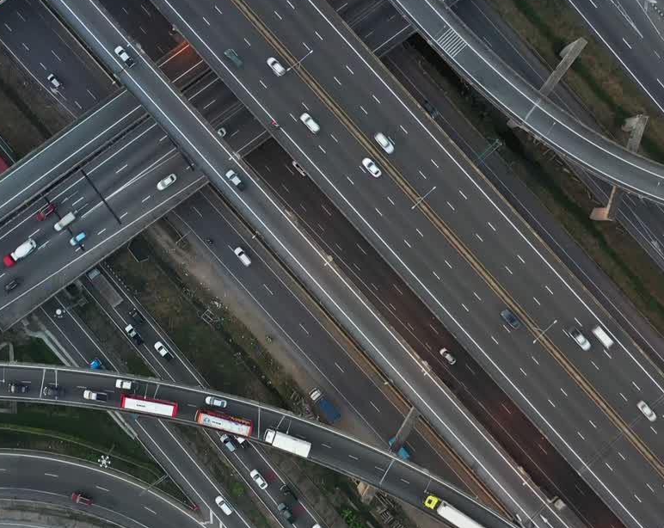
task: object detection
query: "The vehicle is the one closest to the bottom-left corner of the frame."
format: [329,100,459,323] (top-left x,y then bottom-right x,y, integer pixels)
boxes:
[70,491,95,506]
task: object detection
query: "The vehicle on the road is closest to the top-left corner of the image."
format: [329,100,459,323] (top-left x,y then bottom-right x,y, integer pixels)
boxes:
[46,70,67,92]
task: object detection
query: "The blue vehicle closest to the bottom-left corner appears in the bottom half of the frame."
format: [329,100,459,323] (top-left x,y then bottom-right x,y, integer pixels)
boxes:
[85,354,104,369]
